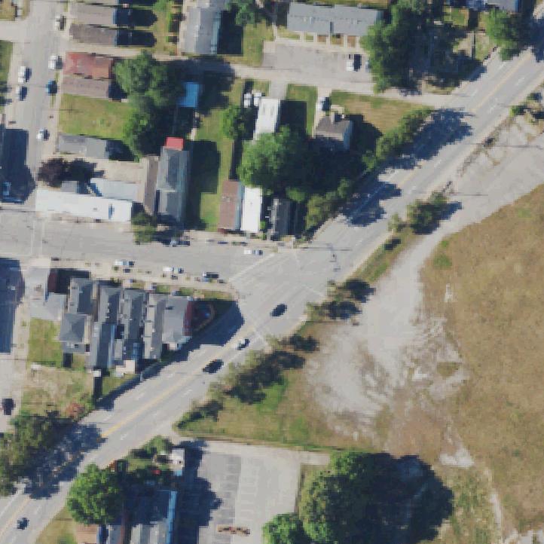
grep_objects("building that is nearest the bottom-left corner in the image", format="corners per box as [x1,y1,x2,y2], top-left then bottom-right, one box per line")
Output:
[74,524,101,544]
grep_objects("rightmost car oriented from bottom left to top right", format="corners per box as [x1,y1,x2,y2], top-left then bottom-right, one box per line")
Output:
[271,303,286,317]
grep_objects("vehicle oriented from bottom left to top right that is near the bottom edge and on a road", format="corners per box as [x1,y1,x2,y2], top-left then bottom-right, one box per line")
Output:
[15,515,29,531]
